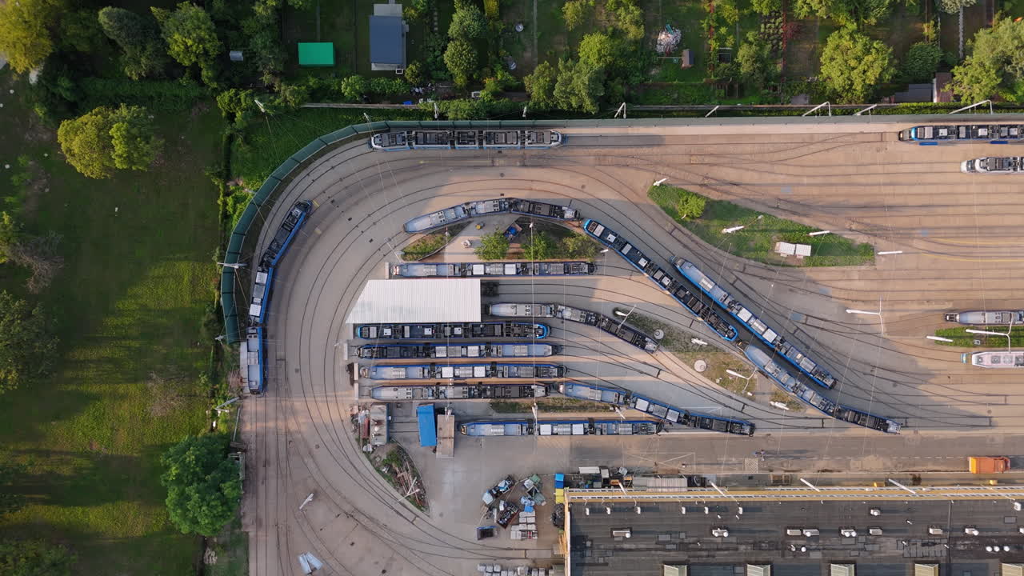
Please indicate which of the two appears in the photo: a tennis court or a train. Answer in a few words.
train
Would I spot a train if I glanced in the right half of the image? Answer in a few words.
Yes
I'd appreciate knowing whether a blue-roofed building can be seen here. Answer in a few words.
Yes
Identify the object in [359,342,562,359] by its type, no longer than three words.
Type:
train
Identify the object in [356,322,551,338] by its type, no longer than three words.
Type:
train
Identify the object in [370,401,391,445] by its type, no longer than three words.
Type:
shed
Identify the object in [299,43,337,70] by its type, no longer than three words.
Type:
building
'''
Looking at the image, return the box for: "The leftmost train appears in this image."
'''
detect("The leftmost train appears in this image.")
[245,200,317,393]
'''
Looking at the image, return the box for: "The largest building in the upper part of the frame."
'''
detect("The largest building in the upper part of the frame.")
[369,4,408,71]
